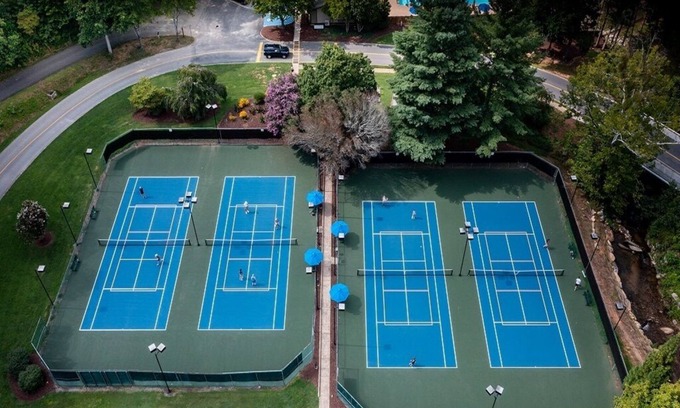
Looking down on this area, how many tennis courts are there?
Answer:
4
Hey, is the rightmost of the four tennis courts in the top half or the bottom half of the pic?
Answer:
bottom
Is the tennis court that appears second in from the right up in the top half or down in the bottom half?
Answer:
bottom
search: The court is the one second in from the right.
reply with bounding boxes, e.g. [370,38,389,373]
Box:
[362,201,458,368]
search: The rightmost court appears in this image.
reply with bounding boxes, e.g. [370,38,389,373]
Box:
[462,201,581,368]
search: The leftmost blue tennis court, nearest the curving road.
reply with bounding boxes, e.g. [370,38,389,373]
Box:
[80,177,199,330]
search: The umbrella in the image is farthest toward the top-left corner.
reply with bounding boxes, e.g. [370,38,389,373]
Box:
[306,191,324,211]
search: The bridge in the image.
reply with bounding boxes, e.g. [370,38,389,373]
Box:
[605,125,680,191]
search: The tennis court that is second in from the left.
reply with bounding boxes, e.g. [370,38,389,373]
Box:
[199,177,295,330]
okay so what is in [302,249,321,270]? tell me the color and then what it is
blue umbrella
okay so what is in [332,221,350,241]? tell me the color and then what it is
blue umbrella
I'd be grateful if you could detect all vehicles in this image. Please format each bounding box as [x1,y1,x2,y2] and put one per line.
[262,45,289,58]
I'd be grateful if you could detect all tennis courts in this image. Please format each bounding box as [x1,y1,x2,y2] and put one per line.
[362,201,458,368]
[199,177,295,330]
[80,177,199,330]
[462,201,581,368]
